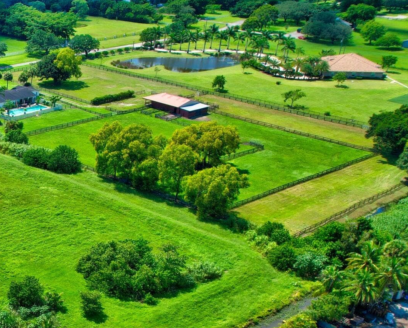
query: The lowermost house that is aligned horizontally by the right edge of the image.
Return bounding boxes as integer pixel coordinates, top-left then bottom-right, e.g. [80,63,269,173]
[303,48,403,76]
